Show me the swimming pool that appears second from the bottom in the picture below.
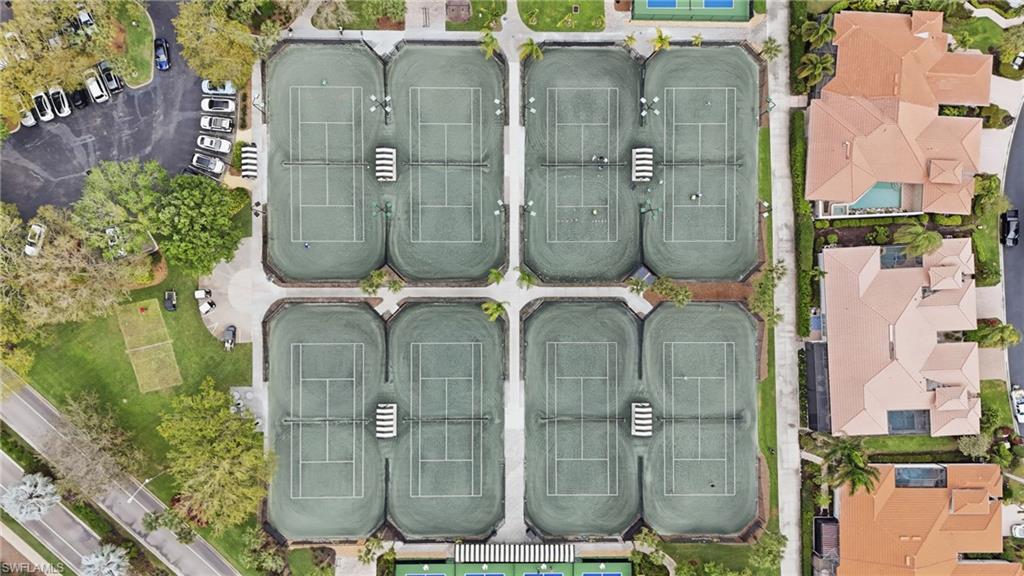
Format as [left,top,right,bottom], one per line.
[886,411,929,436]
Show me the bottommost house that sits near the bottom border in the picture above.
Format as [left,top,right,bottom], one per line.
[838,463,1020,576]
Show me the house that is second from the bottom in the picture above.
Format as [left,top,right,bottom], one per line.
[821,238,981,436]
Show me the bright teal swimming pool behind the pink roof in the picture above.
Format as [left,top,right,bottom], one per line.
[814,181,923,216]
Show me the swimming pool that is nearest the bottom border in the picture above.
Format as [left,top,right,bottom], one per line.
[894,462,950,487]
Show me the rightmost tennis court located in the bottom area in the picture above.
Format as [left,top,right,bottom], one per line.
[642,302,757,538]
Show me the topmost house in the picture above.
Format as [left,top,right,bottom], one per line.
[806,11,993,216]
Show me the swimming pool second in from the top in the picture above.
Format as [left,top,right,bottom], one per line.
[880,246,919,267]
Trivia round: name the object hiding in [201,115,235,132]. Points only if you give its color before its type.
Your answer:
white vehicle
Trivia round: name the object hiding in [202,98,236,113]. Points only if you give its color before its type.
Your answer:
white car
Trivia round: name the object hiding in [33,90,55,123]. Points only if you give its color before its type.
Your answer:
white car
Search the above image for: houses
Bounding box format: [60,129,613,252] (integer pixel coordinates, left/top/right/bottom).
[806,11,993,216]
[838,463,1020,576]
[821,238,981,436]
